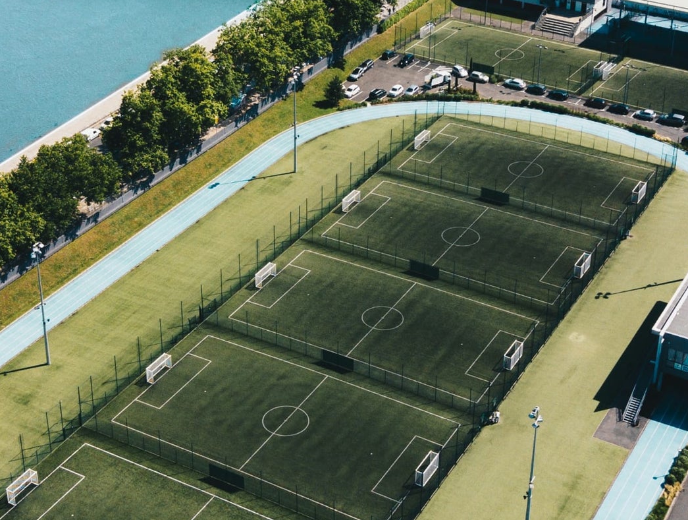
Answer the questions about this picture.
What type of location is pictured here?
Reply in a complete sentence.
The area seen from above is a sports ground.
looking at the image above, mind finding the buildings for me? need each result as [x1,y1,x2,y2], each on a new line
[620,0,688,53]
[505,0,622,30]
[649,270,688,397]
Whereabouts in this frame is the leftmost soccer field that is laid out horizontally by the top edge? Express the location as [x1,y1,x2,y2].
[395,17,628,94]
